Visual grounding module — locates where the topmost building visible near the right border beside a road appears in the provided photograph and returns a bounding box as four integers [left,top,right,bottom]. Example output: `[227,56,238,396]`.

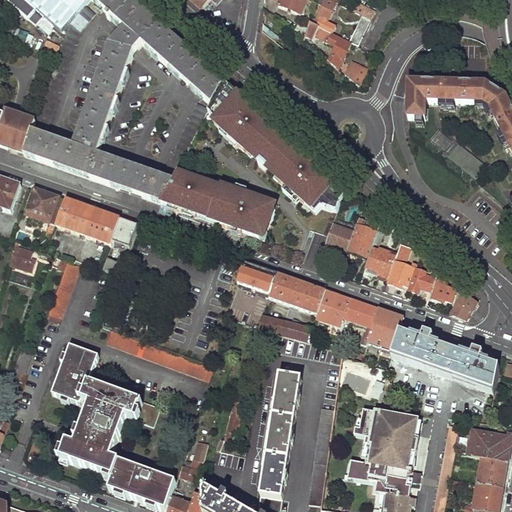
[406,76,512,150]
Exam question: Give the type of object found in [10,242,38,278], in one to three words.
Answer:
house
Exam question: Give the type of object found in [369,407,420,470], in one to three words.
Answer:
house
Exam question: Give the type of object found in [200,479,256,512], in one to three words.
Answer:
building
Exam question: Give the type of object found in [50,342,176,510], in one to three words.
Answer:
building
